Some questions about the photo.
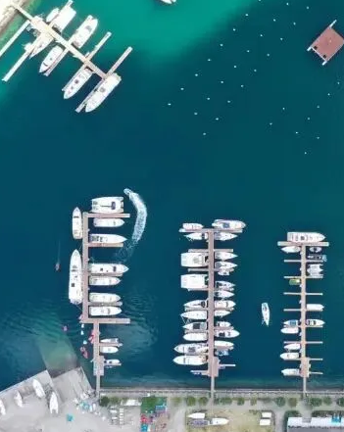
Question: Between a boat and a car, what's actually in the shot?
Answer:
boat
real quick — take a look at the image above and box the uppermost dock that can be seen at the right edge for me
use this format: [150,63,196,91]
[277,242,330,391]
